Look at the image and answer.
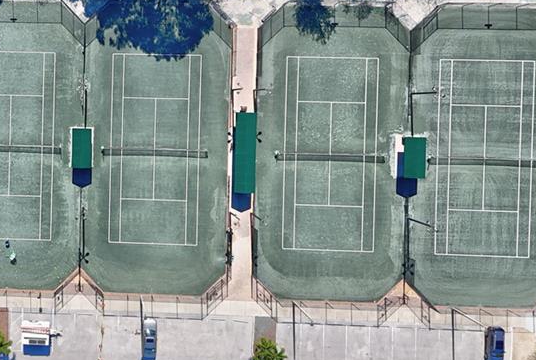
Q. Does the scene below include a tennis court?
Yes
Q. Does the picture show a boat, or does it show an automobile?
automobile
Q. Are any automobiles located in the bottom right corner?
Yes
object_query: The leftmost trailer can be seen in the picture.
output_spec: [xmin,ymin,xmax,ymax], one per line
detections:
[22,314,61,346]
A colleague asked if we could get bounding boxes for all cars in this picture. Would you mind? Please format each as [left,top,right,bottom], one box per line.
[140,319,158,359]
[484,326,507,360]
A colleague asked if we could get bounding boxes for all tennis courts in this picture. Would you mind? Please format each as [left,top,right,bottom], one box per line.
[80,0,233,294]
[253,3,411,302]
[0,0,84,290]
[404,5,536,309]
